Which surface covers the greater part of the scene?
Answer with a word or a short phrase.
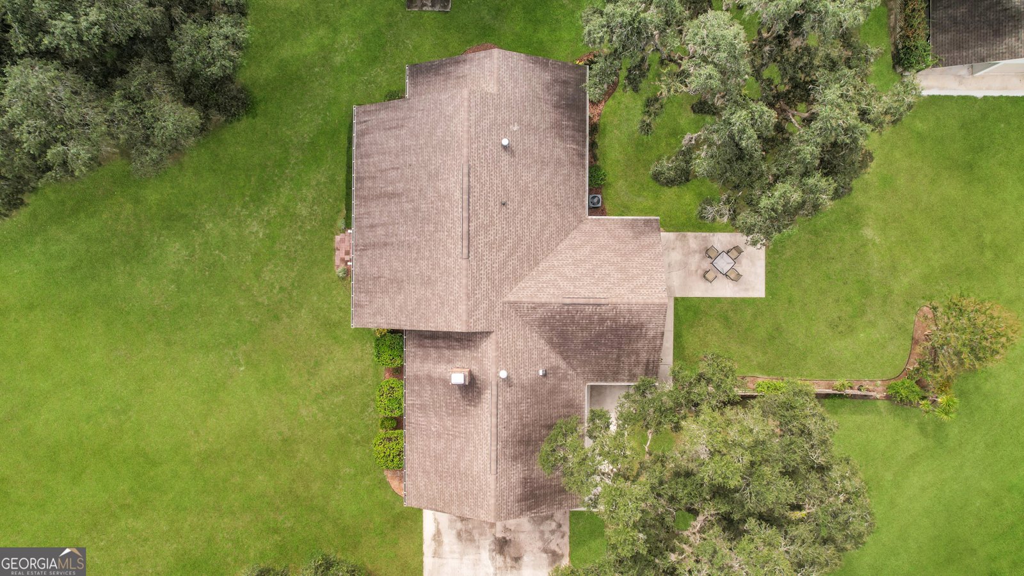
grass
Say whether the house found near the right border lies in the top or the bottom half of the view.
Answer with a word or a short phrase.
top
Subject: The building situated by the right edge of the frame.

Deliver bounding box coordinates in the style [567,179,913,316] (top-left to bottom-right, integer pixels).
[921,0,1024,76]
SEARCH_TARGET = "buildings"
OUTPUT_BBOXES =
[350,48,670,524]
[921,0,1024,76]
